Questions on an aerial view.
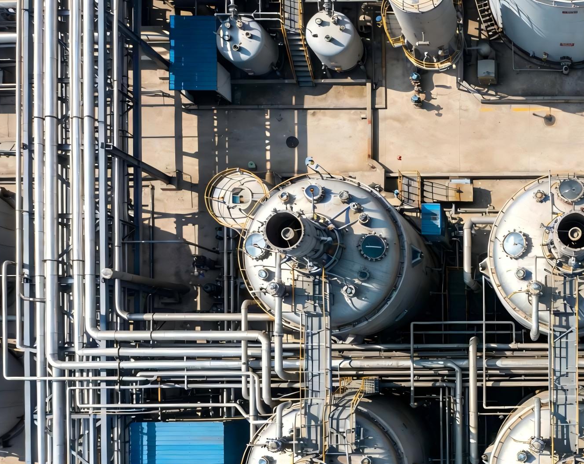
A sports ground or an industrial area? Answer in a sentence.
This looks like an industrial area.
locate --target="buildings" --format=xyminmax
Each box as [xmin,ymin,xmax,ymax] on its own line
[129,417,262,464]
[170,15,231,102]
